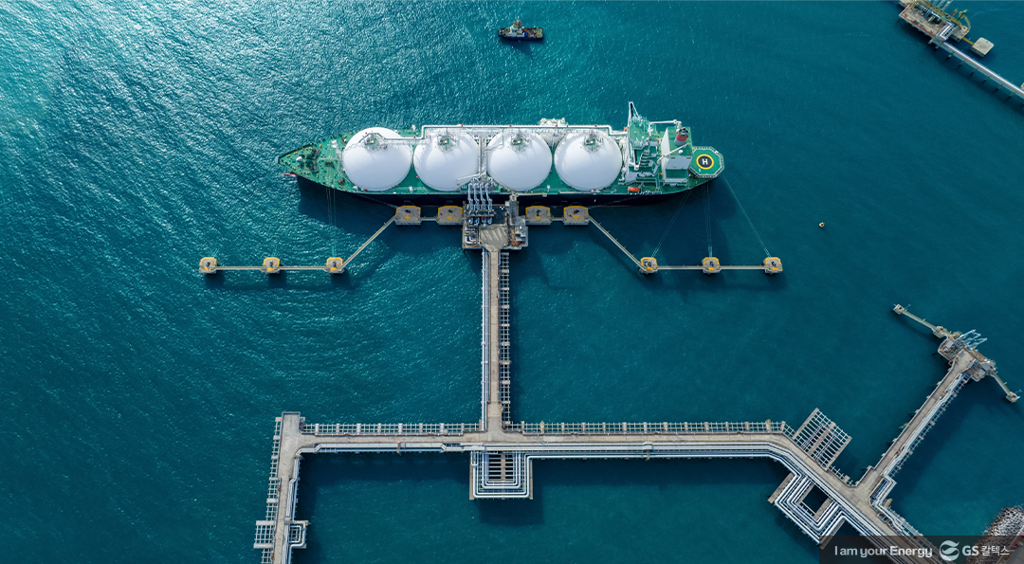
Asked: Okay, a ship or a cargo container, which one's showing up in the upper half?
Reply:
ship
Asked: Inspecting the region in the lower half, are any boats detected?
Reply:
No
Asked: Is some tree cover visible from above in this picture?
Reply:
No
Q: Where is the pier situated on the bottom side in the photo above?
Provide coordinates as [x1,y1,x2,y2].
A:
[933,332,995,384]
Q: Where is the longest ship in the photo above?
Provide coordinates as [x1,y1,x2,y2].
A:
[277,103,722,206]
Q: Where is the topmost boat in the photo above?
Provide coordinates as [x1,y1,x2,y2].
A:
[499,19,545,43]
